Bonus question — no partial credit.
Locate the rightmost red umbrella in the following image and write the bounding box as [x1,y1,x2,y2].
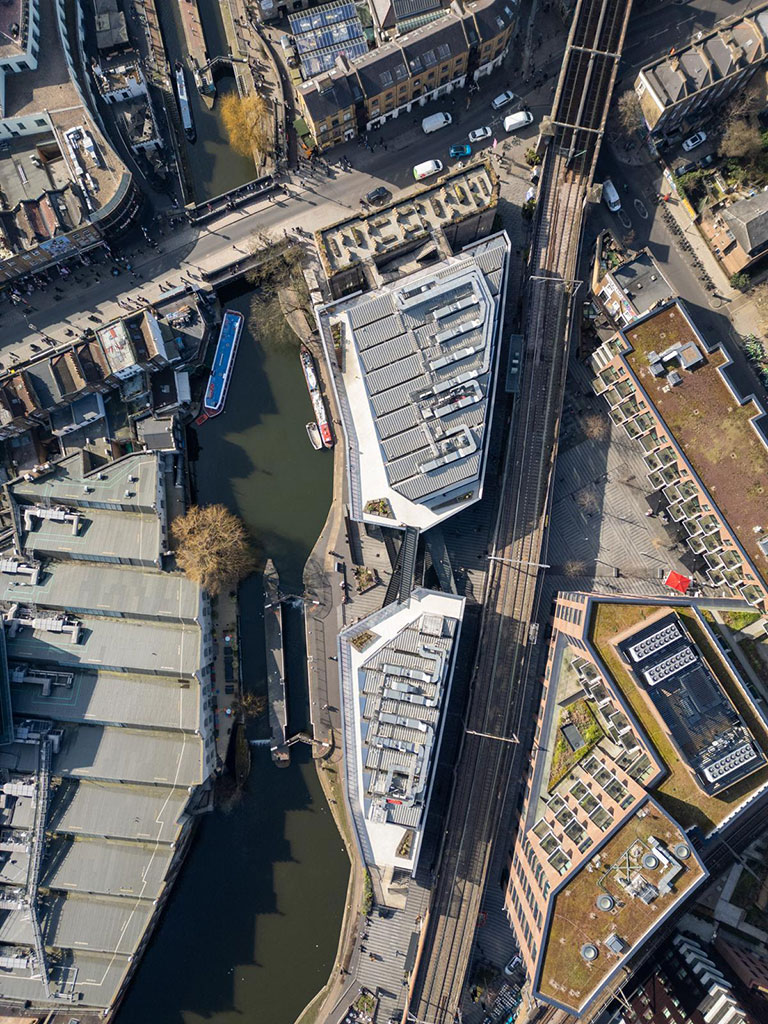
[665,571,690,593]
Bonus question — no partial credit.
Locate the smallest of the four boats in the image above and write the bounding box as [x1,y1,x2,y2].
[307,422,321,447]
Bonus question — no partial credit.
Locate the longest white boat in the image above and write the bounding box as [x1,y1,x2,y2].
[296,341,332,447]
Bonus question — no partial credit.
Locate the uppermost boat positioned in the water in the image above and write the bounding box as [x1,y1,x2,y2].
[171,59,198,143]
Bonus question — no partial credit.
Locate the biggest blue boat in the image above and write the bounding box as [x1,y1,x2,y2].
[202,307,246,415]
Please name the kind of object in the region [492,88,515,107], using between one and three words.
car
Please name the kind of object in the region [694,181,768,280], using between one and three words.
house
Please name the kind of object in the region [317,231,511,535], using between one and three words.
building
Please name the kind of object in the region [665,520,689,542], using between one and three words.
umbrella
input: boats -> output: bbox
[307,422,321,447]
[171,59,198,143]
[296,341,332,447]
[202,307,246,415]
